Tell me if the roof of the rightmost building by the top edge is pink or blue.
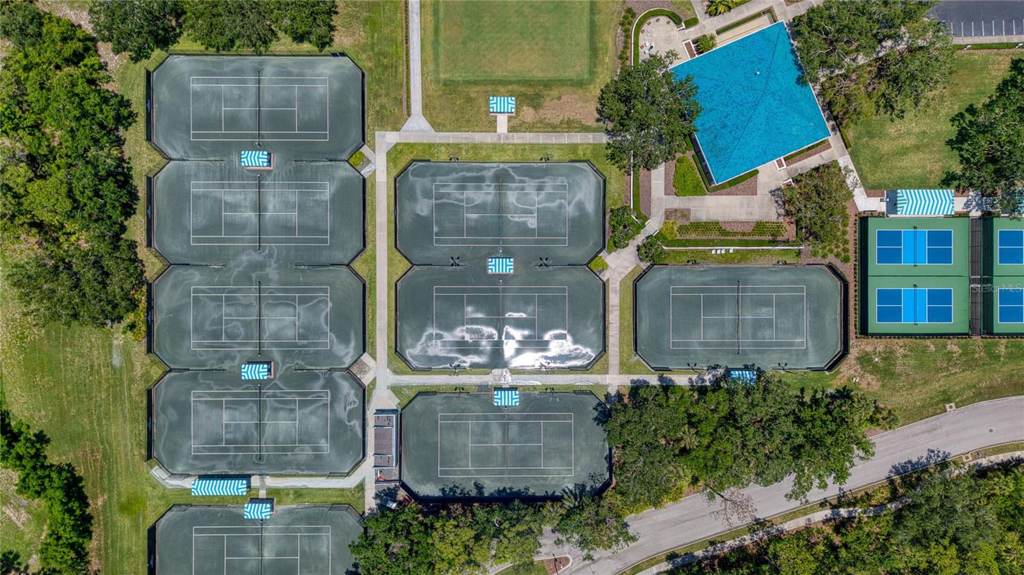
blue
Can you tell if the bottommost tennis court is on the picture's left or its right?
left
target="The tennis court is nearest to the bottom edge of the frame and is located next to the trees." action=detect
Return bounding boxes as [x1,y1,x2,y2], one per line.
[155,505,364,575]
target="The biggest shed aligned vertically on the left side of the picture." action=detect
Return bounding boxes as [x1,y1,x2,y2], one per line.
[370,409,397,469]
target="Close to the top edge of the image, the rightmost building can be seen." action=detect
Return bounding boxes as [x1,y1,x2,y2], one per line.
[665,20,831,186]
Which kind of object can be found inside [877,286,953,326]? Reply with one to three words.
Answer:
sports court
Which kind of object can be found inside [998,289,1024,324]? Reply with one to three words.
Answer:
sports court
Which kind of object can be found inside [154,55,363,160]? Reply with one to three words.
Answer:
tennis court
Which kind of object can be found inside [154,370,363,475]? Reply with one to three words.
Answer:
tennis court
